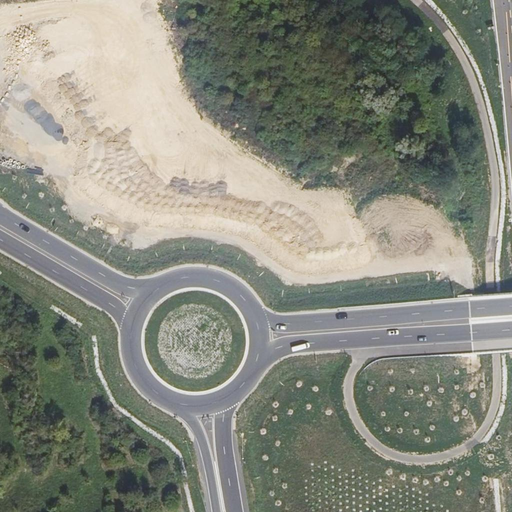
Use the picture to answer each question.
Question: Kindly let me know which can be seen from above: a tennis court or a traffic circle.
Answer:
traffic circle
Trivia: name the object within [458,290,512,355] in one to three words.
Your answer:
bridge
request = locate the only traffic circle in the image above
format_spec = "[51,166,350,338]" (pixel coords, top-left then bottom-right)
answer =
[110,264,280,424]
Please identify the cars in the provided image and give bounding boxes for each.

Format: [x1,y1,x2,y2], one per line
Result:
[418,336,428,341]
[19,223,30,232]
[276,324,286,330]
[388,330,399,336]
[336,313,348,319]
